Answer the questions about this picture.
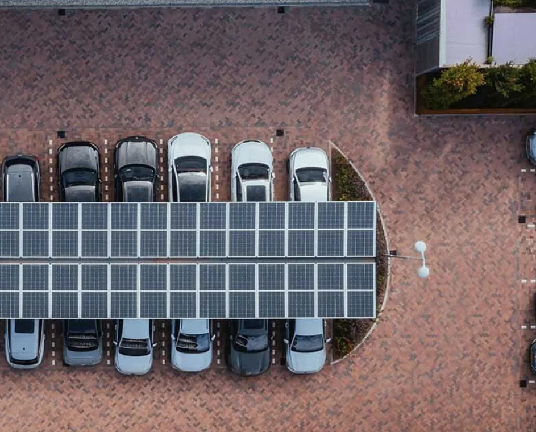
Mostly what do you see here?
paved ground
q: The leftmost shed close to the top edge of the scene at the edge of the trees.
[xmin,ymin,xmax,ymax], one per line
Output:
[414,0,490,75]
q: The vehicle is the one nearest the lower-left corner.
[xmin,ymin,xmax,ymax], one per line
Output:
[5,319,46,369]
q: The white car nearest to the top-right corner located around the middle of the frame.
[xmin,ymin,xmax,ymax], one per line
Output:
[285,148,335,201]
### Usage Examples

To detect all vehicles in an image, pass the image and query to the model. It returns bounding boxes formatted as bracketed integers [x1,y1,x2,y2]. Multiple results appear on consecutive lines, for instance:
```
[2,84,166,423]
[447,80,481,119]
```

[169,319,217,372]
[59,300,106,367]
[56,142,103,201]
[110,319,157,374]
[285,148,335,201]
[227,318,276,376]
[166,133,215,201]
[5,319,46,369]
[1,155,41,201]
[282,307,331,374]
[229,141,278,201]
[112,136,162,233]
